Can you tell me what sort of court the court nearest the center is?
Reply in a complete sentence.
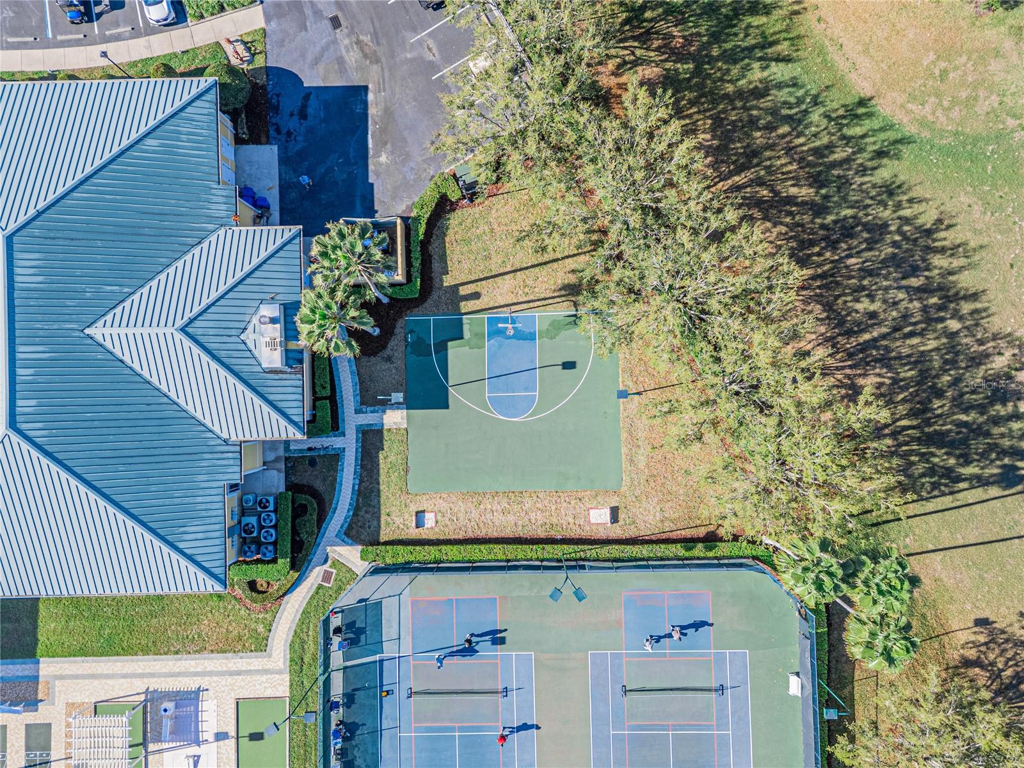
I'd identify the court nearest the center as a basketball court.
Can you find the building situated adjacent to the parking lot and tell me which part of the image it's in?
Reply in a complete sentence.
The building situated adjacent to the parking lot sits in the left section of the image.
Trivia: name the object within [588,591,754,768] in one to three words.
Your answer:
tennis court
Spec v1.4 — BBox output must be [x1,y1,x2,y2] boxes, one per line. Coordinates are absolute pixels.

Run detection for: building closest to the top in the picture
[0,76,315,600]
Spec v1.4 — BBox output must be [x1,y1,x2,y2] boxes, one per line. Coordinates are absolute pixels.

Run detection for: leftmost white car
[139,0,176,25]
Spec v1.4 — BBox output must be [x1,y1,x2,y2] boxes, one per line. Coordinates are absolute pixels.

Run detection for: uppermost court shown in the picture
[405,310,622,492]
